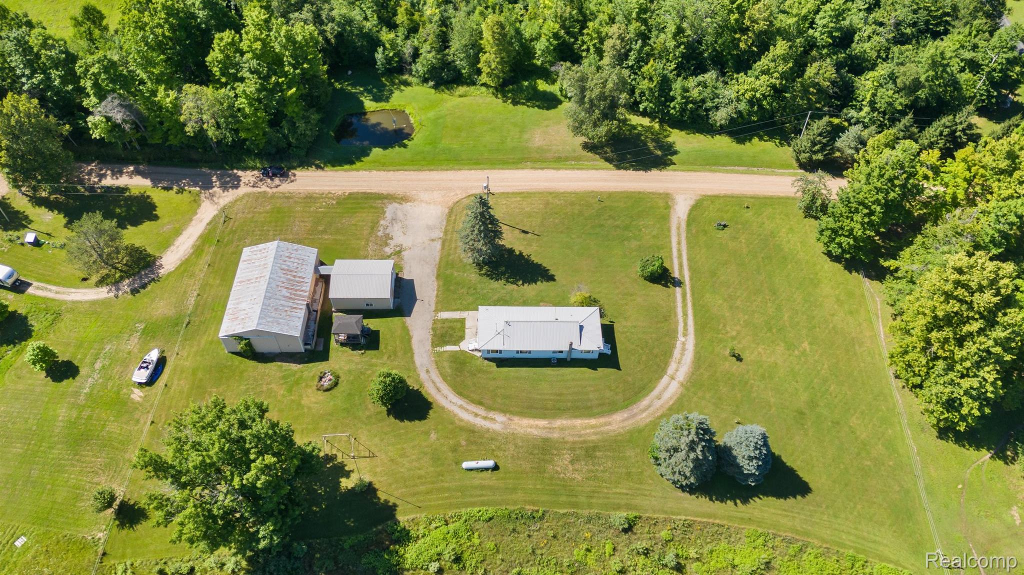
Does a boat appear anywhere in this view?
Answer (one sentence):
Yes, looking at the shot, I can spot a boat.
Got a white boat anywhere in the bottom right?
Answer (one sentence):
No, there is no white boat in the bottom right.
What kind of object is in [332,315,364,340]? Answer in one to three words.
gazebo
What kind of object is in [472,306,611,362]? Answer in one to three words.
house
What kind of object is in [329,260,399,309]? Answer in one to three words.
building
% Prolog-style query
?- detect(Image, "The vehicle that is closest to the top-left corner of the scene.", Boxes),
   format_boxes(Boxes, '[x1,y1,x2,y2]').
[0,261,20,285]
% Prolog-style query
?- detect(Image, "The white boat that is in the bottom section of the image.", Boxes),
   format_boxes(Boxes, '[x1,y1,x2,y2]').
[130,346,159,385]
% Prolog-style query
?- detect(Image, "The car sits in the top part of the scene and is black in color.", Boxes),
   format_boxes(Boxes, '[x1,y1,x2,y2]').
[260,165,285,178]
